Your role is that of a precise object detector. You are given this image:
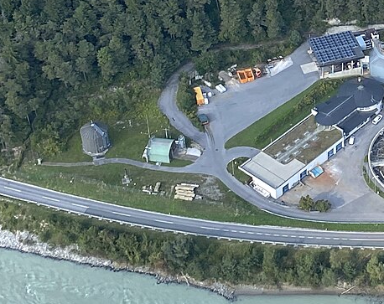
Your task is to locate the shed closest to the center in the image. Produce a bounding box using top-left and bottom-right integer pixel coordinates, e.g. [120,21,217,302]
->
[140,137,176,166]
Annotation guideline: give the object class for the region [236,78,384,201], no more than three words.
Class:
building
